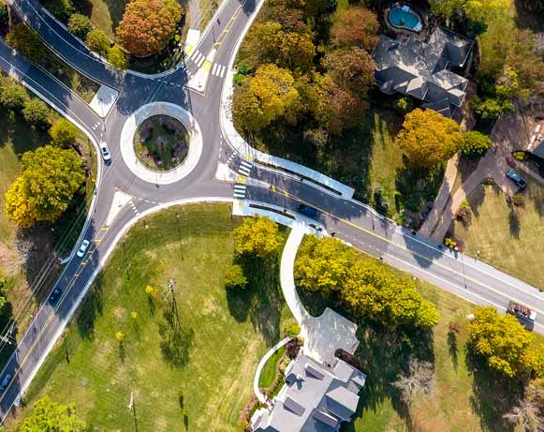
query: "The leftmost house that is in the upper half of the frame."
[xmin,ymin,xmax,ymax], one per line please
[373,23,477,121]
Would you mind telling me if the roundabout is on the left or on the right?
left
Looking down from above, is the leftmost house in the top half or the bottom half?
bottom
